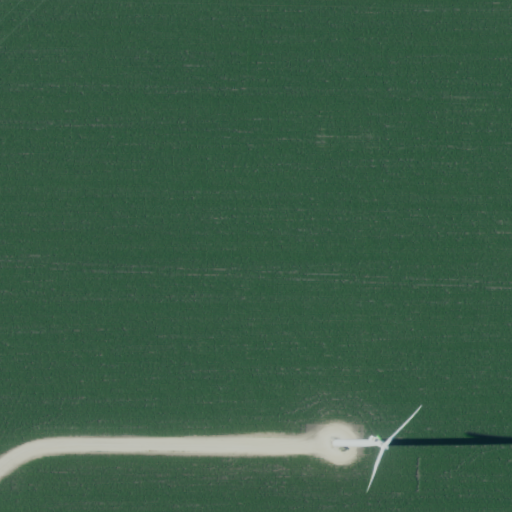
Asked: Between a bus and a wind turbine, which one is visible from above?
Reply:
wind turbine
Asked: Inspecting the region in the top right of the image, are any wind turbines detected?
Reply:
No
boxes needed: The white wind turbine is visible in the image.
[331,406,420,492]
